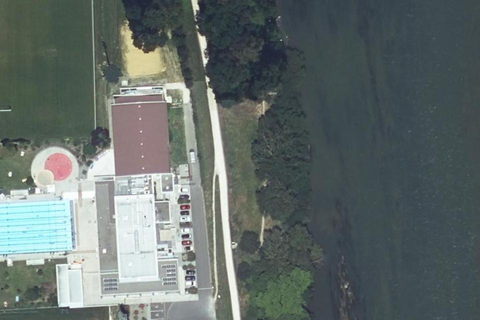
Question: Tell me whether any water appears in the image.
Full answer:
Yes, the picture does contain water.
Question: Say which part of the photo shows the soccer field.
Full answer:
You can find the soccer field in the top left area of the picture.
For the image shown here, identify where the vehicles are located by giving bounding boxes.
[186,270,196,275]
[183,246,193,251]
[180,234,192,240]
[184,276,196,281]
[179,194,190,200]
[180,216,190,222]
[186,281,196,286]
[179,204,190,210]
[180,210,190,216]
[182,240,192,246]
[179,188,189,193]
